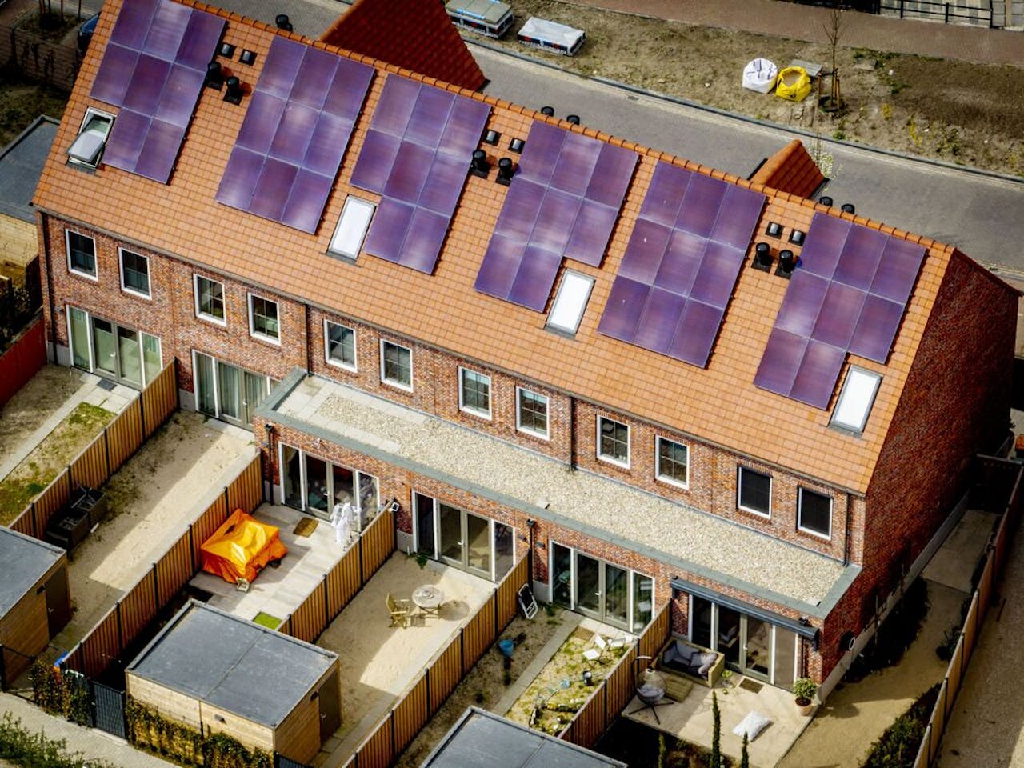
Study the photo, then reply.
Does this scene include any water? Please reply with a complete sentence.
No, there is no water in the image.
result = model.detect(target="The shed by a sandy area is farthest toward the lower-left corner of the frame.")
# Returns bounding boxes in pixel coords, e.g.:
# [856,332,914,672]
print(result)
[0,524,71,678]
